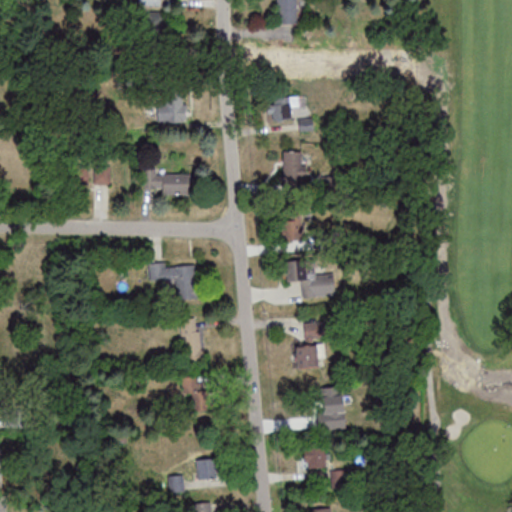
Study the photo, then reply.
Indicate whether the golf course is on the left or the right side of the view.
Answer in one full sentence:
The golf course sits on the right side.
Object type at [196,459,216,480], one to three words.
building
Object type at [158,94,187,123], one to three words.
house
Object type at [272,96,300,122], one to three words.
house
